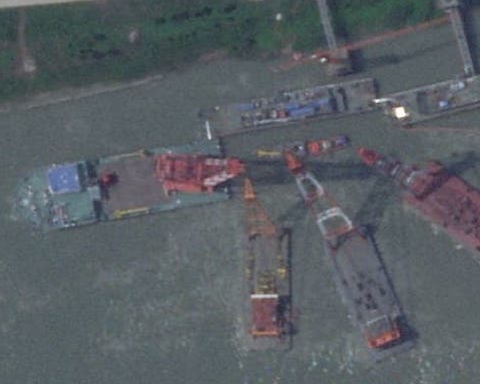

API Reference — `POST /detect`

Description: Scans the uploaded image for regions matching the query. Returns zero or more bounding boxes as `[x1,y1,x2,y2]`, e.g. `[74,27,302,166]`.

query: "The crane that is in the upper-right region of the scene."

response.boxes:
[276,20,450,70]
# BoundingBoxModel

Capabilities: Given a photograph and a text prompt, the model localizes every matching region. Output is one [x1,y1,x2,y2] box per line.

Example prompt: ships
[285,150,407,350]
[16,129,276,228]
[241,175,304,344]
[361,146,480,252]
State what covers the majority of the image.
water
